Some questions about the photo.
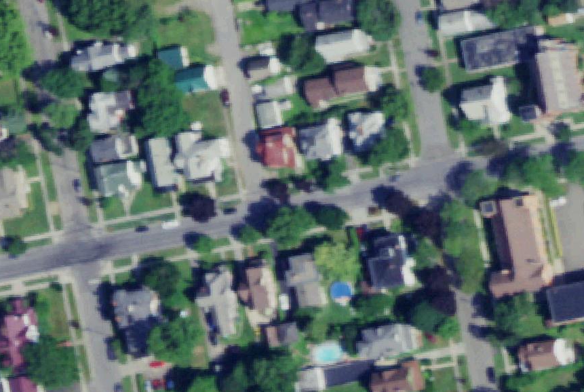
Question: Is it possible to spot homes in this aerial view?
Yes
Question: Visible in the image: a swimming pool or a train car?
swimming pool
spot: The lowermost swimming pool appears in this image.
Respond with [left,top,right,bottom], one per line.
[313,339,343,367]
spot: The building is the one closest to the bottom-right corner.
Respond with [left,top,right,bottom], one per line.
[515,337,574,372]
